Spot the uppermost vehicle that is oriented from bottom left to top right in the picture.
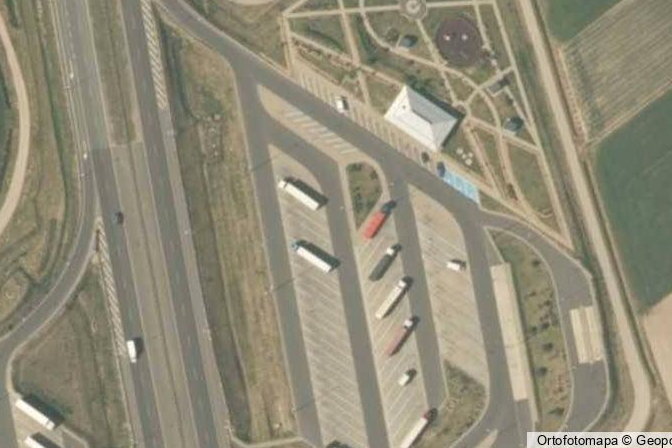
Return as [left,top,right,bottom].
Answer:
[365,200,396,239]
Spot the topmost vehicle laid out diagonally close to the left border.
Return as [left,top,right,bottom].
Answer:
[14,399,55,430]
